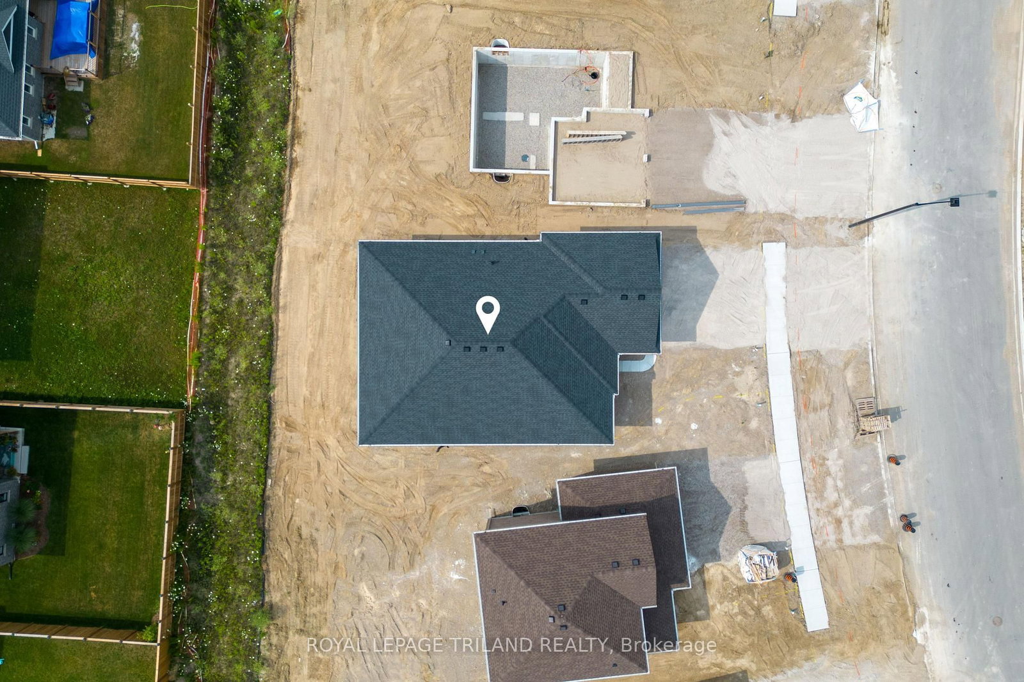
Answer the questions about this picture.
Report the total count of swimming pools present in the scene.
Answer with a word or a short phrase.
0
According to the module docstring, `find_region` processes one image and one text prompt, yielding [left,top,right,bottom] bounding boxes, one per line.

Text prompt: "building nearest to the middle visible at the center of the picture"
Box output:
[357,230,663,452]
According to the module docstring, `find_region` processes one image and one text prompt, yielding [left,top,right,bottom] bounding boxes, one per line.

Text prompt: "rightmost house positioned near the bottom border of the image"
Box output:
[472,465,692,682]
